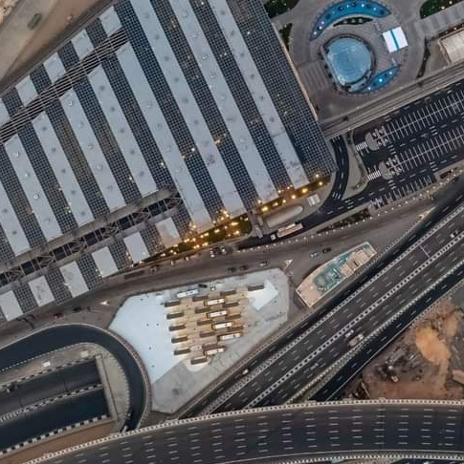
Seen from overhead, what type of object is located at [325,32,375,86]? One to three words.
building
